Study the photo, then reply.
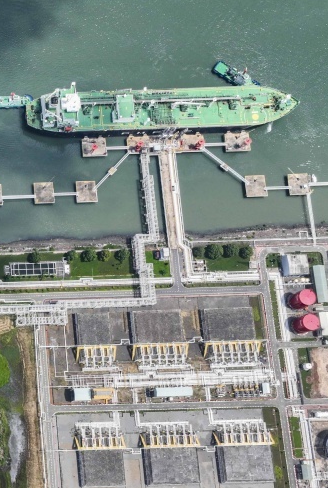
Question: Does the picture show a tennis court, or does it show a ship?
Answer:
ship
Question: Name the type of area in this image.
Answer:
industrial area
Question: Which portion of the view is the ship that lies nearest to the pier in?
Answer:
top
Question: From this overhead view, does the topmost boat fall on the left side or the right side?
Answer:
right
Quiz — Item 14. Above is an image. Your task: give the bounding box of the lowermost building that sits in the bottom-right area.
[297,460,314,480]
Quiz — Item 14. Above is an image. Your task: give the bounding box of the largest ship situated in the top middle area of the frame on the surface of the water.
[26,83,301,136]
